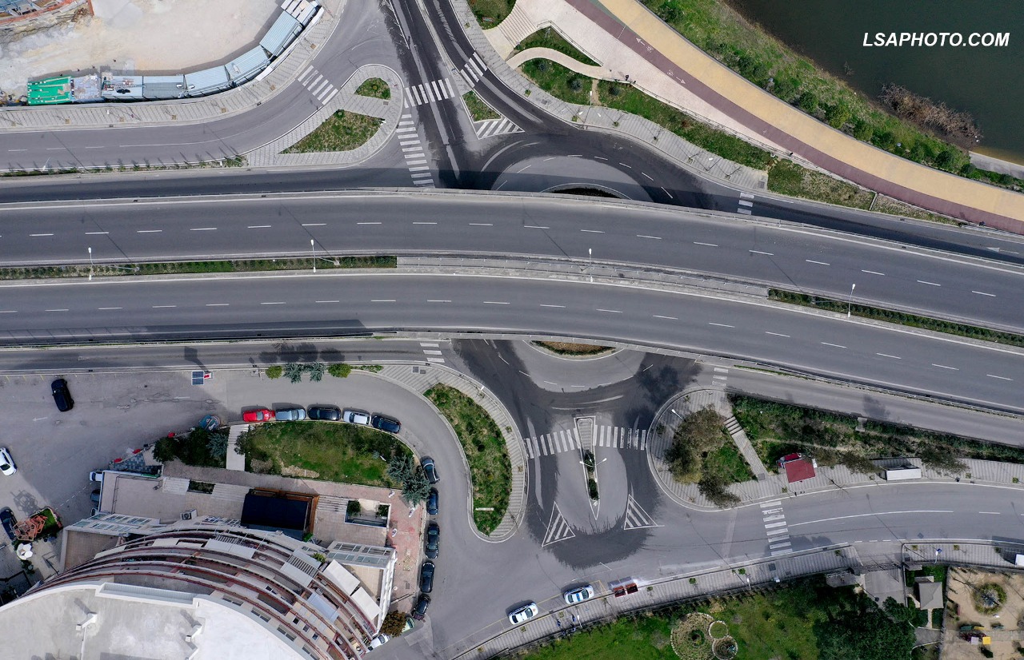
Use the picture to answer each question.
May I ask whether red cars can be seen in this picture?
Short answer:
Yes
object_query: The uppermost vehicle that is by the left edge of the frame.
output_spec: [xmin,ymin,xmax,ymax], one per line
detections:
[51,379,75,412]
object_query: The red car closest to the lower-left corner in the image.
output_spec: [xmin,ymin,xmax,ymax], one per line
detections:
[244,408,275,424]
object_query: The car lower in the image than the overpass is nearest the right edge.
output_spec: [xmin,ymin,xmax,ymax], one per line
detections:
[564,583,595,604]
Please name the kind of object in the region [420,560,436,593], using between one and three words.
car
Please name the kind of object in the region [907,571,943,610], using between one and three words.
building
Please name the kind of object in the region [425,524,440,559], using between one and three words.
car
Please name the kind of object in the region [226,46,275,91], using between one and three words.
shed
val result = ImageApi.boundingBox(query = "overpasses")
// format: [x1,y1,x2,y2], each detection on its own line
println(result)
[0,187,1024,416]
